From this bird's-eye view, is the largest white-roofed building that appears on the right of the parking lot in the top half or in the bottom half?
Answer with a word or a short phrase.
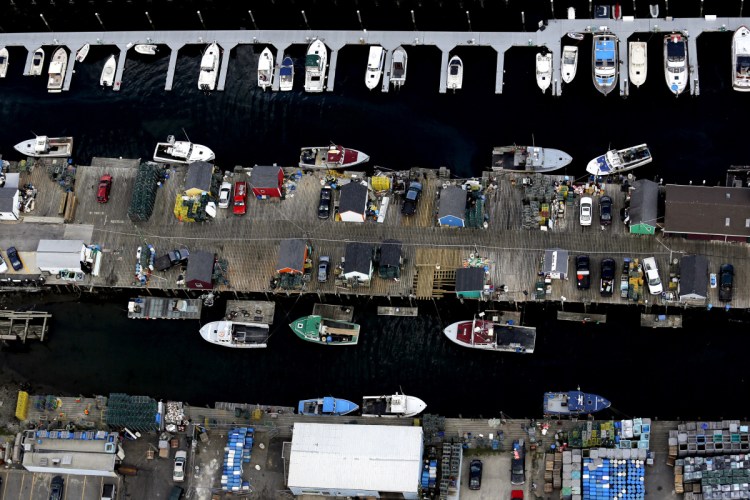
bottom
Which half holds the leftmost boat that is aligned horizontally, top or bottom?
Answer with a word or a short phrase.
top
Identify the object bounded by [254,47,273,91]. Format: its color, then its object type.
white boat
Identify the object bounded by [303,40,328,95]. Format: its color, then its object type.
white boat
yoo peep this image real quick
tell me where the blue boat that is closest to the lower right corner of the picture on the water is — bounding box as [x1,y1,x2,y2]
[543,392,611,417]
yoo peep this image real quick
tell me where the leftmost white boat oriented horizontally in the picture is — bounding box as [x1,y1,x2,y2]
[14,133,75,158]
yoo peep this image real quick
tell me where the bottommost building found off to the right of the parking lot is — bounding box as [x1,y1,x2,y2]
[287,422,426,498]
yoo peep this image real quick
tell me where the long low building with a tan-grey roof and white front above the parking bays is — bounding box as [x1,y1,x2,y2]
[23,438,125,474]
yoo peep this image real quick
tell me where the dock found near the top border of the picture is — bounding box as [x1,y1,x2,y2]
[0,18,750,97]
